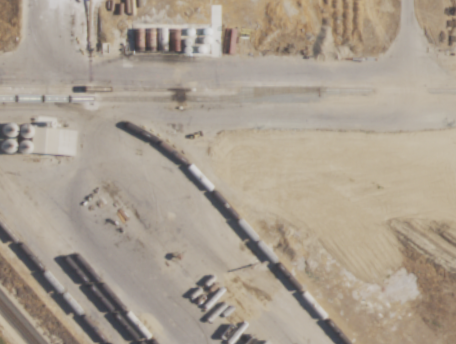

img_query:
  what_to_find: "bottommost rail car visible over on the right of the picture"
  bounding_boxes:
[328,318,355,344]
